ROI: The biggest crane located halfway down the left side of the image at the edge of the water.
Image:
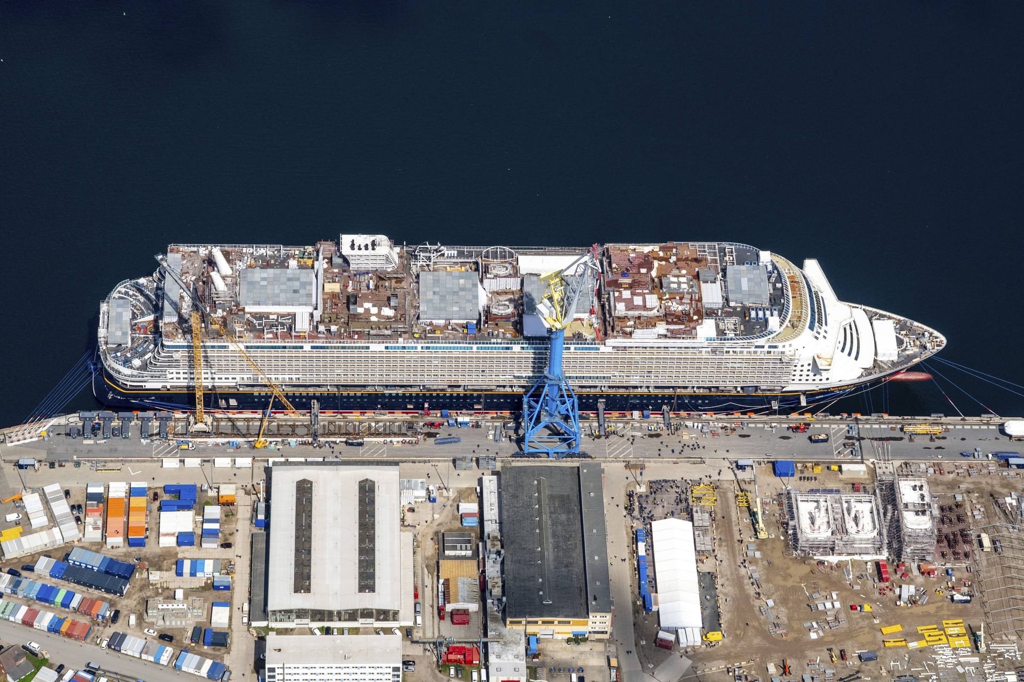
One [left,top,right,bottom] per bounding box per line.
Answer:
[157,256,300,436]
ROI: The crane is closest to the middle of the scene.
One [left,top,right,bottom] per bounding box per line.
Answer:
[508,243,602,462]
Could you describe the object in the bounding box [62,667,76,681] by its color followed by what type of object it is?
white vehicle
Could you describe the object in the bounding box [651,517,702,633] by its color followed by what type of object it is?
white tent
